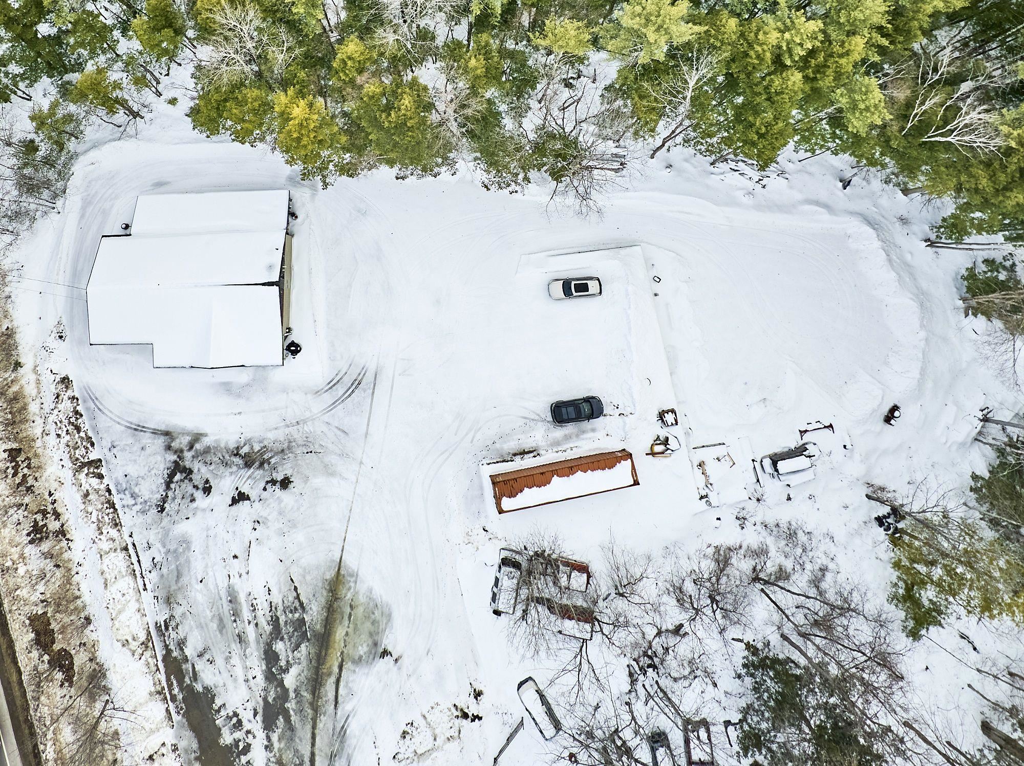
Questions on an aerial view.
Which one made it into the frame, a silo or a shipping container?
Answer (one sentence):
Looking from above, you can make out a shipping container.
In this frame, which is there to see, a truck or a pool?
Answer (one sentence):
I can see a truck in this picture.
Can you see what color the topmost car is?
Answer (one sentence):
The topmost car looks white in the image.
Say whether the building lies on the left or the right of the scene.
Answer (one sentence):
The building appears in the left half of the scene.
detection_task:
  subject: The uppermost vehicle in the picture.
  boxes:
[546,275,604,301]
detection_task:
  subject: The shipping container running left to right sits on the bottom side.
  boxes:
[492,450,638,514]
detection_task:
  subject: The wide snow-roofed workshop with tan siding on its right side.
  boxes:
[86,190,294,370]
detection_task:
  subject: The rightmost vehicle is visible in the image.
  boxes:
[759,441,825,488]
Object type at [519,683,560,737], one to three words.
car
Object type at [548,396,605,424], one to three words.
car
